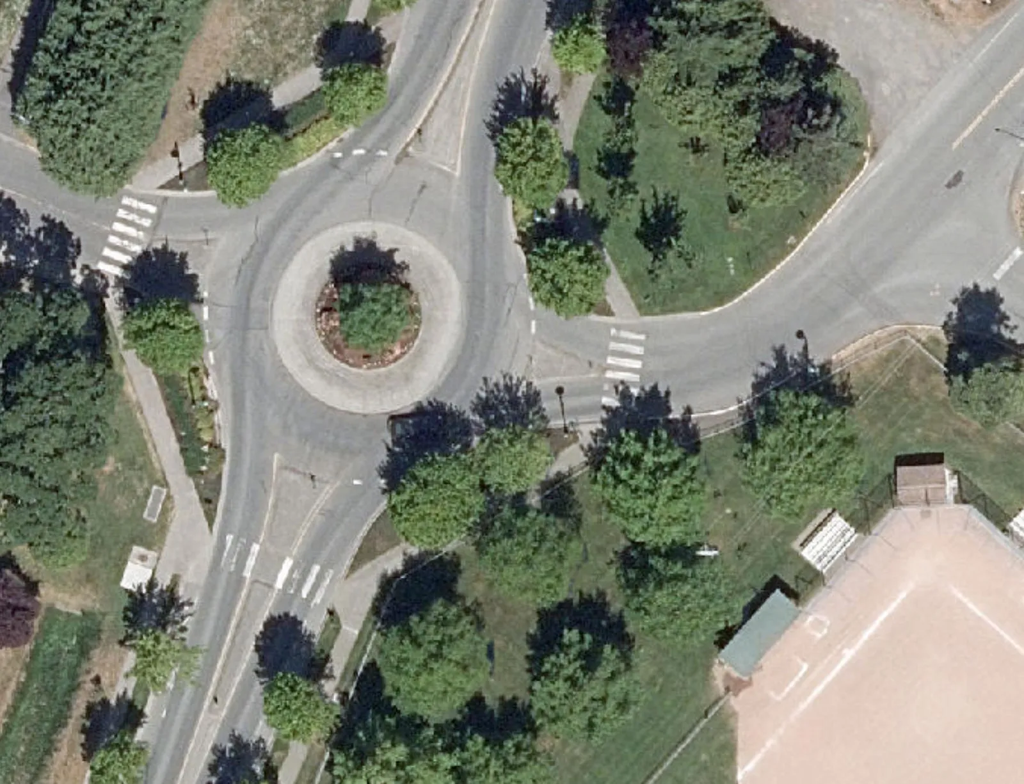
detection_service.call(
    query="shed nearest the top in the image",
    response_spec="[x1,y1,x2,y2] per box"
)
[896,462,947,507]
